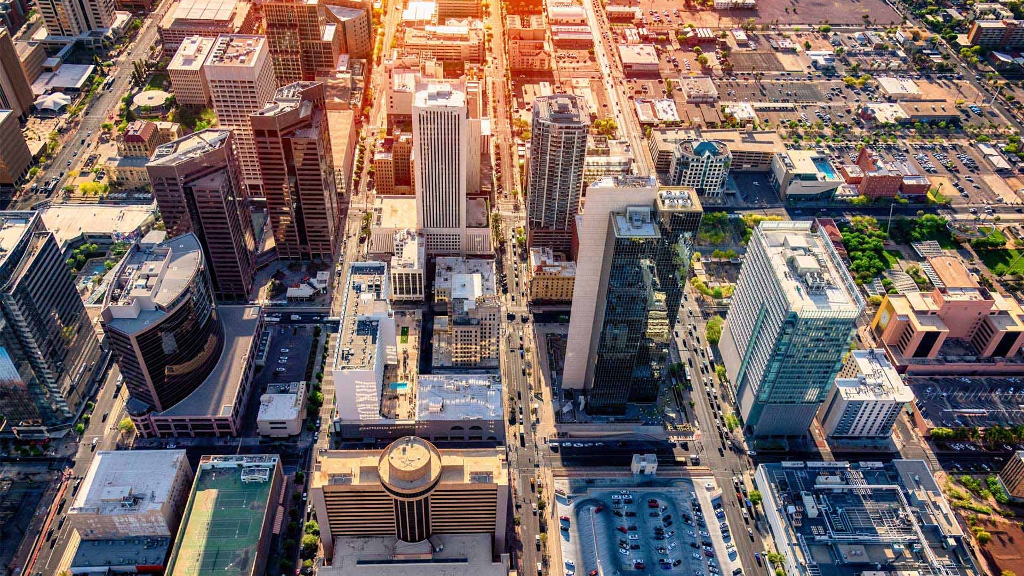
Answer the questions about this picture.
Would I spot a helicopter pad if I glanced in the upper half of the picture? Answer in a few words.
No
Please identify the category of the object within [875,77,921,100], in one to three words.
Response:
house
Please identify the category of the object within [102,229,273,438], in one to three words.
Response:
building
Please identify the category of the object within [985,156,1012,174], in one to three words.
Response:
house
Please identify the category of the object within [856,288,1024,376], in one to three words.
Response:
building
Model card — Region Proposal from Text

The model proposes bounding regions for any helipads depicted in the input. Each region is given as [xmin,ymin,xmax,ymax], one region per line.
[389,439,429,471]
